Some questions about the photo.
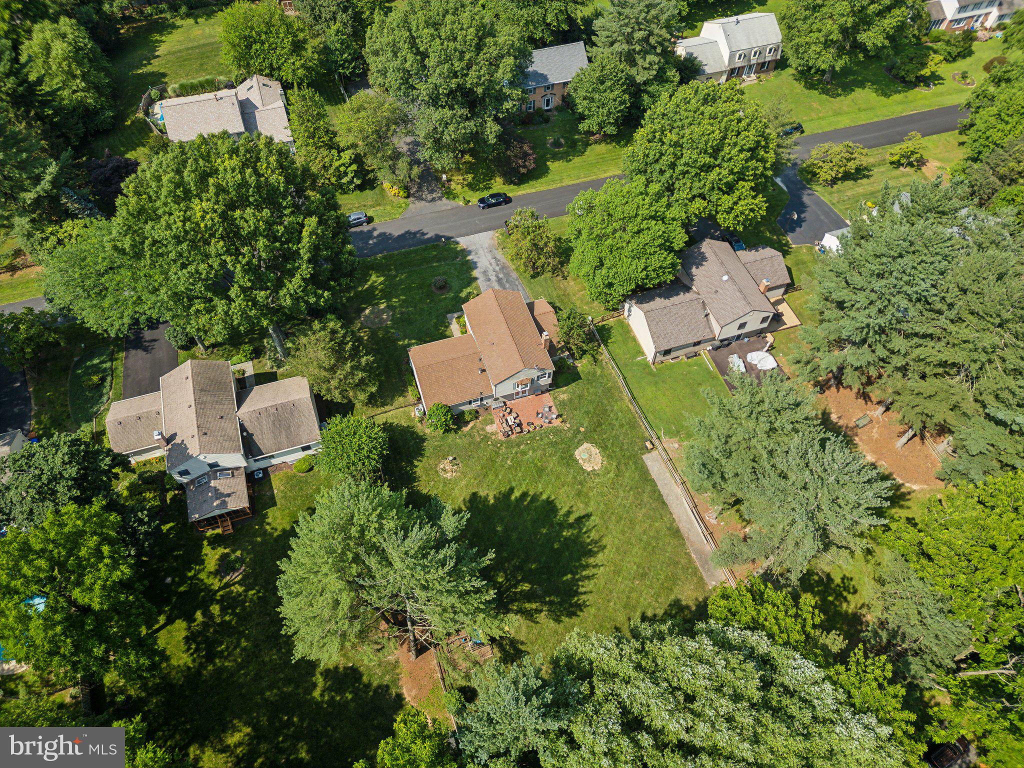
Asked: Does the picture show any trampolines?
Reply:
No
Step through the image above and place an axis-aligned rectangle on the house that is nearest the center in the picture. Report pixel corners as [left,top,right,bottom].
[407,288,570,418]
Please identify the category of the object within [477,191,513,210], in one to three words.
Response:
car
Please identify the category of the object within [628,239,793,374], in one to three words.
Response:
house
